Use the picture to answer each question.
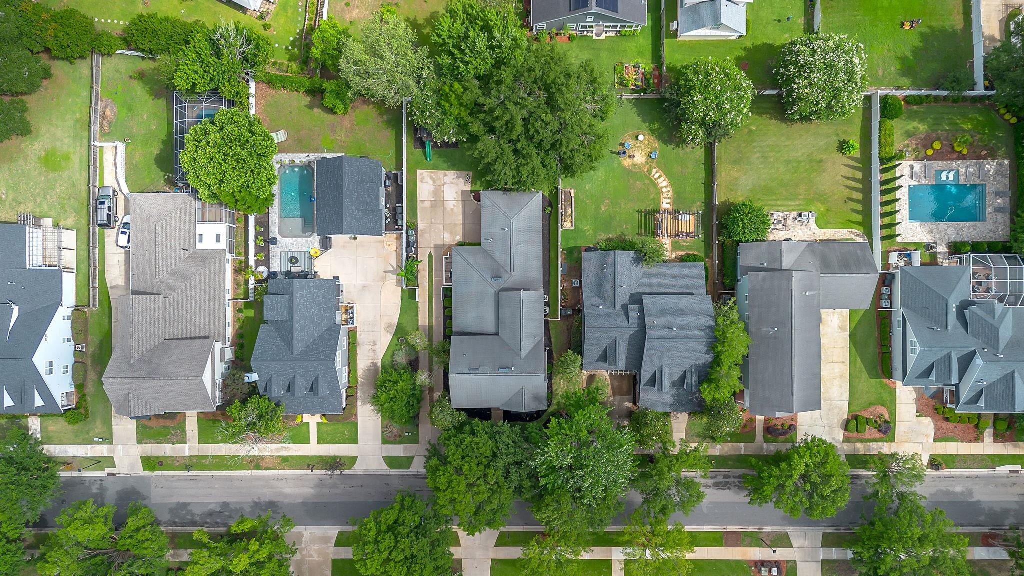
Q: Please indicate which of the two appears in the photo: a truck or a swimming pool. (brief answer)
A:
swimming pool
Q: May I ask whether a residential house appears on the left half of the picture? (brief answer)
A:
Yes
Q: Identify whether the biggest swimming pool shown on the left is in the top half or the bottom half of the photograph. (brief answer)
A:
top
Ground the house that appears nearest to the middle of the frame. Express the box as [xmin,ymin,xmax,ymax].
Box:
[443,191,547,412]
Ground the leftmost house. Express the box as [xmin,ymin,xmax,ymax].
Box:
[0,223,82,417]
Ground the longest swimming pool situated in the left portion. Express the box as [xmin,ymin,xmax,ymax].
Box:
[278,163,315,237]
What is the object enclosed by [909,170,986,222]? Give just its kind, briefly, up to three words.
swimming pool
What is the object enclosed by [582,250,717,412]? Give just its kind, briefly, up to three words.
house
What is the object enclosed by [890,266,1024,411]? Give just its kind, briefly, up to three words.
house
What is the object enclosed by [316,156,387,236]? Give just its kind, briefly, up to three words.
building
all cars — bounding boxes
[94,186,117,227]
[113,210,130,249]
